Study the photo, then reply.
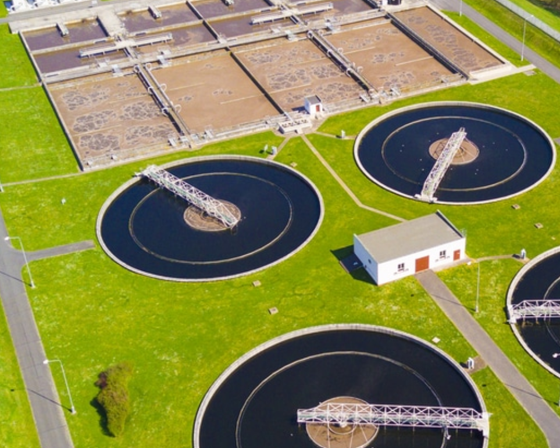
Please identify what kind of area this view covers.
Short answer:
industrial area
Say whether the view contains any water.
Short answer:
Yes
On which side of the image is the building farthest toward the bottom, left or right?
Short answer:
right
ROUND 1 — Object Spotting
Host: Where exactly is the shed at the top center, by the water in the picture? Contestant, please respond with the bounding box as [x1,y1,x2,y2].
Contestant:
[303,92,324,120]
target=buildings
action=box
[303,92,324,120]
[352,204,466,284]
